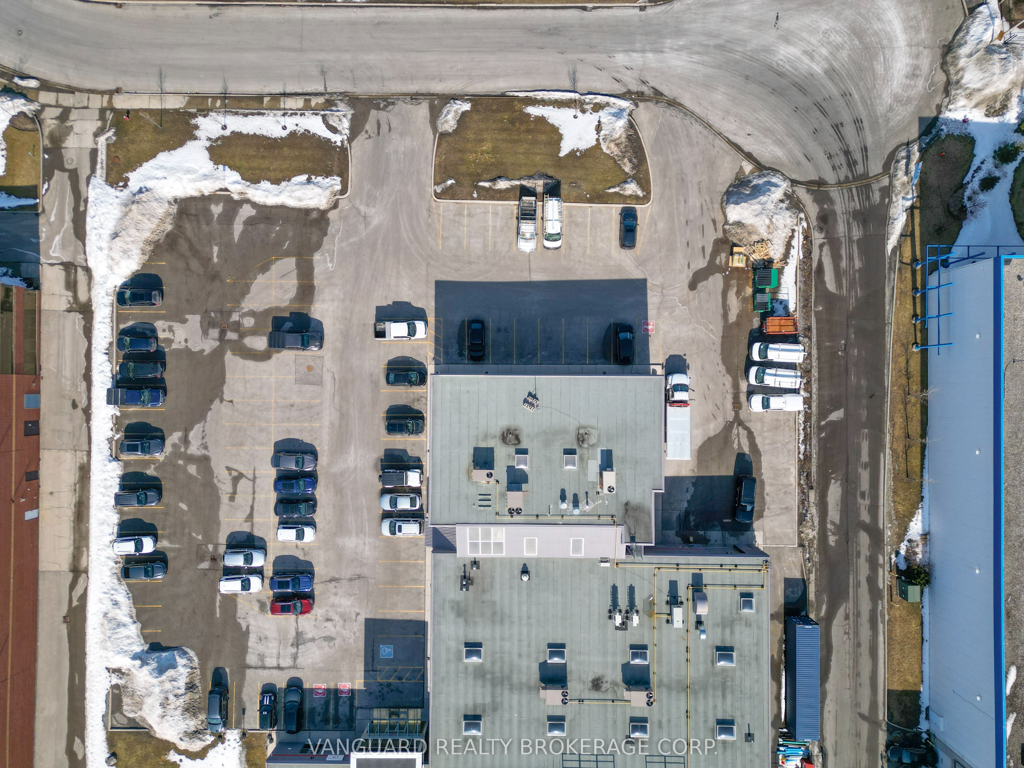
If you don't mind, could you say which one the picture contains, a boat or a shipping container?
shipping container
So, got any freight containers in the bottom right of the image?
Yes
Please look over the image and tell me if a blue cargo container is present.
Yes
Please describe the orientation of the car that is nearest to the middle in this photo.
vertically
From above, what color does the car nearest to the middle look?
black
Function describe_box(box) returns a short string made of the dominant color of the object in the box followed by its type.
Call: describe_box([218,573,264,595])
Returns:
white car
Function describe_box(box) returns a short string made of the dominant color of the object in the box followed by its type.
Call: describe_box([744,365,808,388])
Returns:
white vehicle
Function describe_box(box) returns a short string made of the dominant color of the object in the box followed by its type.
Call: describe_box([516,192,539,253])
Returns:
white truck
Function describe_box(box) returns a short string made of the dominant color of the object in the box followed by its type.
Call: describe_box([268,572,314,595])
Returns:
blue car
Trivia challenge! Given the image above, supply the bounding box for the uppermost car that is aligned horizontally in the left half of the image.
[116,287,162,308]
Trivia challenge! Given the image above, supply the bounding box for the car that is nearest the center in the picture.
[466,320,487,360]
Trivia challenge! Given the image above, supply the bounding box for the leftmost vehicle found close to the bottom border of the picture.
[206,686,231,733]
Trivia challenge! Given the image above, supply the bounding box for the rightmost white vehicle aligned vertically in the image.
[662,366,693,460]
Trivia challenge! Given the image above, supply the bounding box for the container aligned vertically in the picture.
[786,617,820,741]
